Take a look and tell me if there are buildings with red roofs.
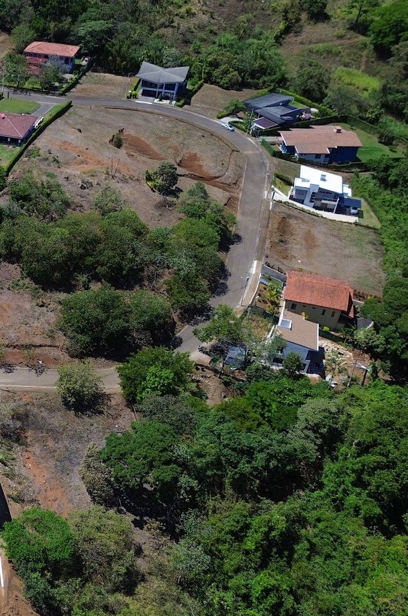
Yes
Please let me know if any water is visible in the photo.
No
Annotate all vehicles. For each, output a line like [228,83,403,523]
[220,123,237,130]
[345,208,365,217]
